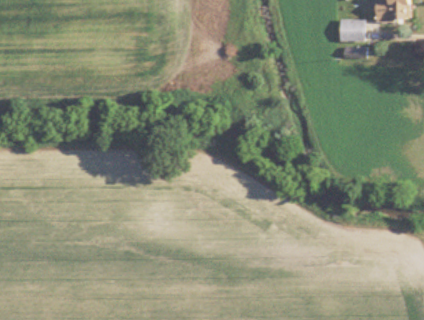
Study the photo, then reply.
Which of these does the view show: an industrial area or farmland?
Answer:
farmland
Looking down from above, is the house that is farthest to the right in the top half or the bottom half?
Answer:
top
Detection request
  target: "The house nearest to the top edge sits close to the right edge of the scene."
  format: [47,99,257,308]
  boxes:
[374,0,412,24]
